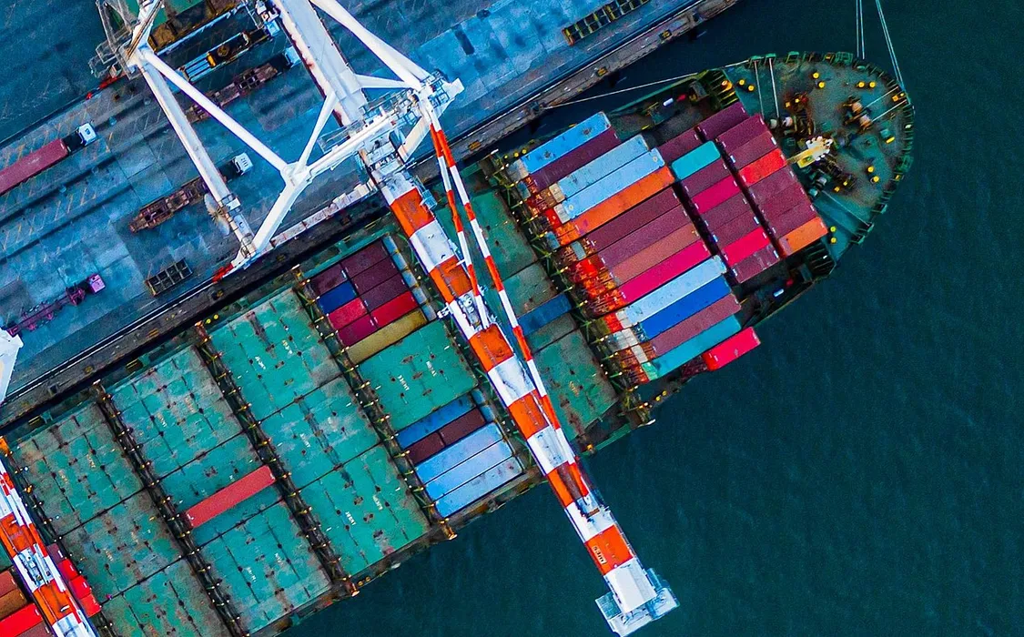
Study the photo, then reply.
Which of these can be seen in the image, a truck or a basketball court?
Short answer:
truck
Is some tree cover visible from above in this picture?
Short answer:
No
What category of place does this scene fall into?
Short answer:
port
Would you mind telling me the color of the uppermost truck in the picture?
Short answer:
blue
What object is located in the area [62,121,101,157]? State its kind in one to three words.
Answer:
truck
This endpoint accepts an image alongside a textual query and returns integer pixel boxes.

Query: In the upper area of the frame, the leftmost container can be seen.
[0,139,71,197]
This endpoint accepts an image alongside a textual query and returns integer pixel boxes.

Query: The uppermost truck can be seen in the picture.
[178,17,284,81]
